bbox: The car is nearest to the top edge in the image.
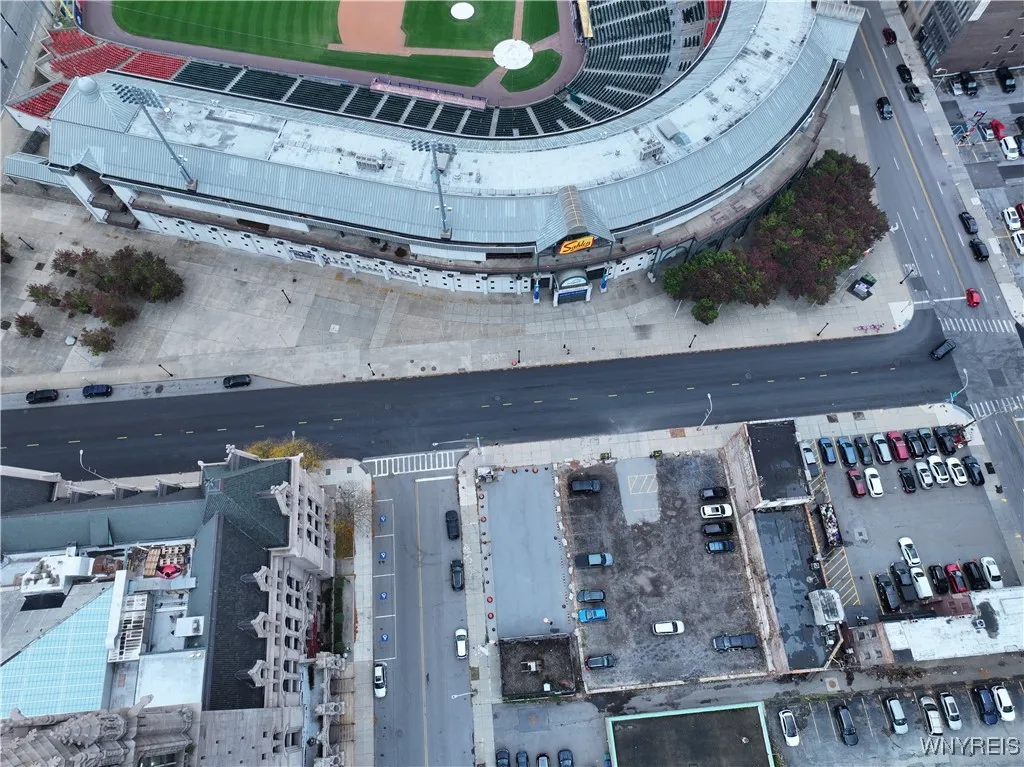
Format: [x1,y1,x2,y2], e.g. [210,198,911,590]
[880,28,897,44]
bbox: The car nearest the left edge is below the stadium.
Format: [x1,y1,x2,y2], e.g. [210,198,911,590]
[28,390,59,404]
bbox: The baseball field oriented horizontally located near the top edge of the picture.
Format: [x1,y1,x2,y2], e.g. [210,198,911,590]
[76,0,594,109]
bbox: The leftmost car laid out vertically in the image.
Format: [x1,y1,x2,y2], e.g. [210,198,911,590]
[371,661,388,699]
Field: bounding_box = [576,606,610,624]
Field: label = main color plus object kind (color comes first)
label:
blue car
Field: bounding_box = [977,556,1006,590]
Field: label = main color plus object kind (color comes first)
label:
white car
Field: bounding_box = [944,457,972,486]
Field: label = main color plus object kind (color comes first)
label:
white car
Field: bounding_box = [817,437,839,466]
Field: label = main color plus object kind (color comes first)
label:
blue car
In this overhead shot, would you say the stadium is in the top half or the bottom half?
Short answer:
top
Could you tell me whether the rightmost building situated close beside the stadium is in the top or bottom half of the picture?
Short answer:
top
